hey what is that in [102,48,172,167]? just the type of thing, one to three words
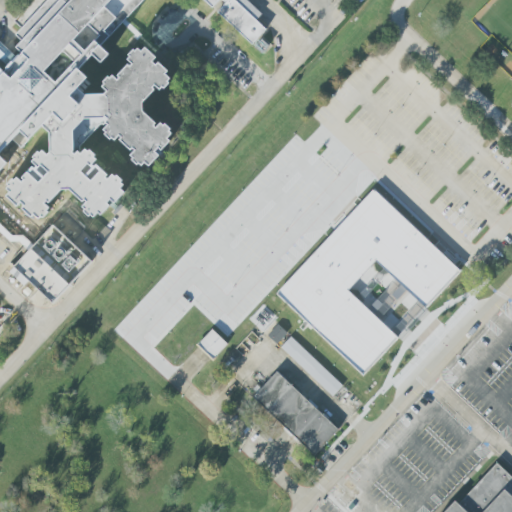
building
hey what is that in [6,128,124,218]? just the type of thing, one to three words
building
